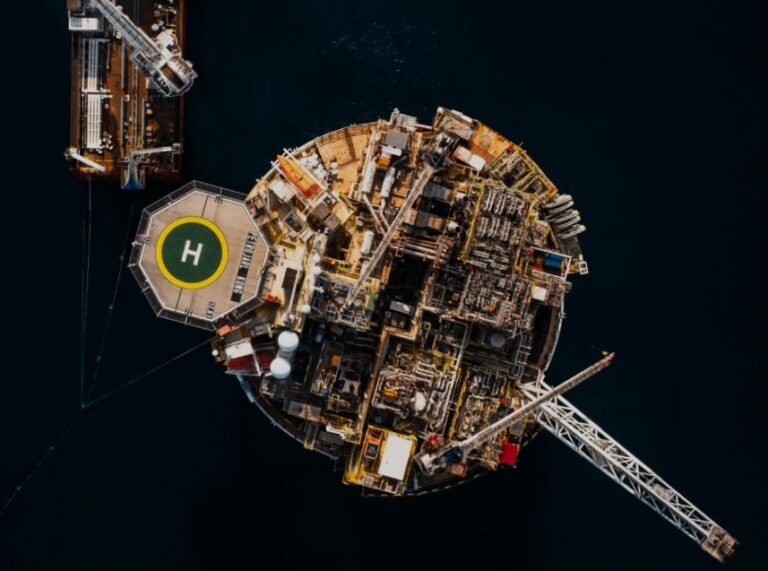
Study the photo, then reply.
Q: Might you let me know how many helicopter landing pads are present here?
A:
one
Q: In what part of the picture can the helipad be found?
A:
left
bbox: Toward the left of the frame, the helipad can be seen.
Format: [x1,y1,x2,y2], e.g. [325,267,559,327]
[129,179,268,332]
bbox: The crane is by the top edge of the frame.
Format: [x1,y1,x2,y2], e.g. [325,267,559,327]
[93,0,198,96]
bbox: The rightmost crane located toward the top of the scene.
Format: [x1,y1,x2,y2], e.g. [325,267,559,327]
[341,127,460,310]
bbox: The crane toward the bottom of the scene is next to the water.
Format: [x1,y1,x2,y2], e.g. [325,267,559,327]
[410,349,620,476]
